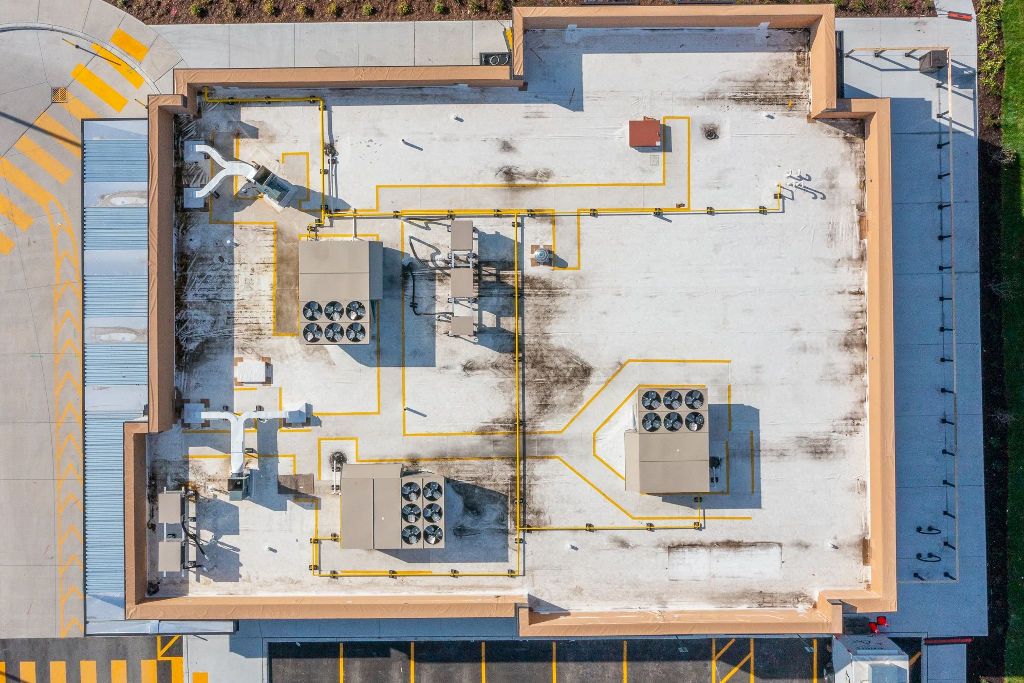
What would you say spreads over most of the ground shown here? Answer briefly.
buildings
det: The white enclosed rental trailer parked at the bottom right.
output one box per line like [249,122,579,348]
[821,634,909,683]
